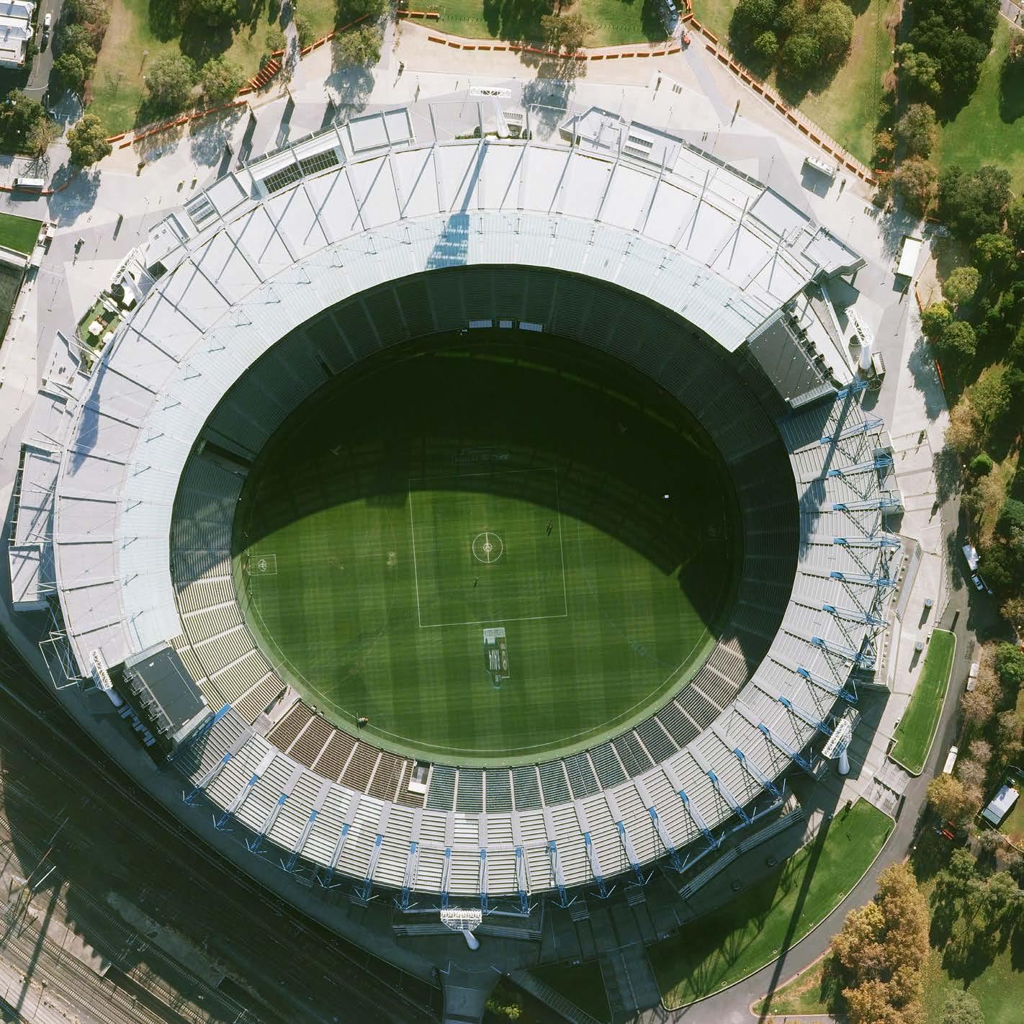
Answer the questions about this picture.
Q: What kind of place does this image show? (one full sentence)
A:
The area seen from above is a sports ground.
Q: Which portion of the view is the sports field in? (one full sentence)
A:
The sports field is in the center part of the image.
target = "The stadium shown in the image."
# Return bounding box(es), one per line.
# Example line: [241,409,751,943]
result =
[7,97,902,914]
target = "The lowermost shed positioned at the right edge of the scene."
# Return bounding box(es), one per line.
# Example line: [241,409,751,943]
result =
[983,783,1021,826]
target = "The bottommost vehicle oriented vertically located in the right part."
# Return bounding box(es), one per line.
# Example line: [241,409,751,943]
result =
[944,747,957,774]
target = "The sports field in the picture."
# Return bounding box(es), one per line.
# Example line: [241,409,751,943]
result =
[231,327,743,767]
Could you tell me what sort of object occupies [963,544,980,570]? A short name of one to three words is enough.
vehicle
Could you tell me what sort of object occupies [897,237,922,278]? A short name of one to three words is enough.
shed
